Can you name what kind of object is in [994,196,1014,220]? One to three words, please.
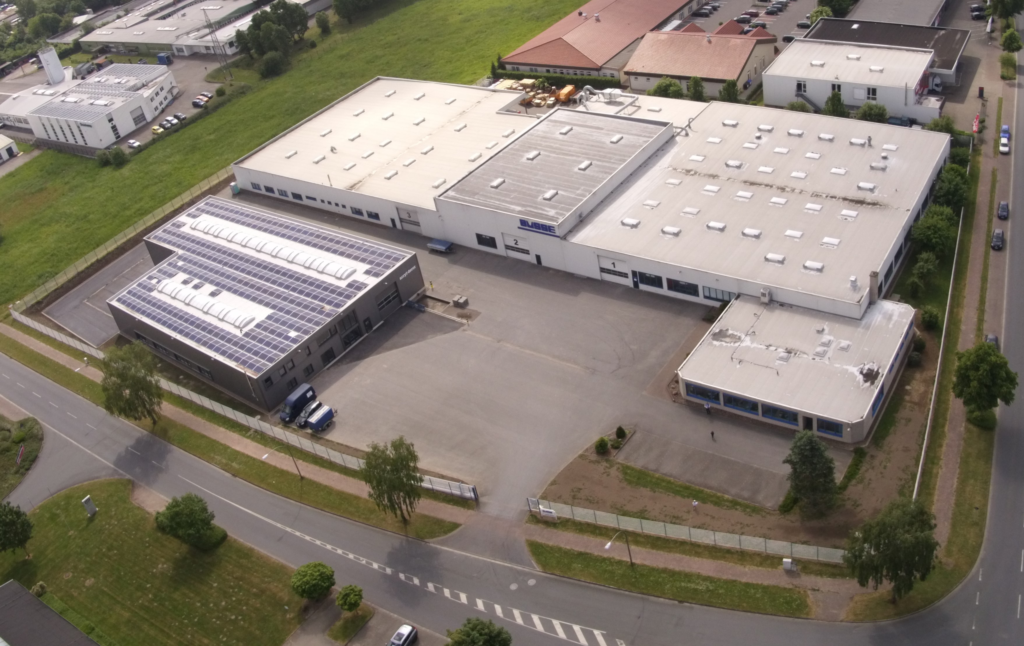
car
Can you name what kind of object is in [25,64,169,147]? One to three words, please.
building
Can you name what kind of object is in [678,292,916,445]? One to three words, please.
building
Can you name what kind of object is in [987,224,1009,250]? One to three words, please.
car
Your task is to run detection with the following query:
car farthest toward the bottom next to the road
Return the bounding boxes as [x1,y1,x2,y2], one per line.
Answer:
[383,615,425,646]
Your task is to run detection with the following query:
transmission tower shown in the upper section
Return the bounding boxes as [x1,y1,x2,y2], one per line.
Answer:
[179,0,242,84]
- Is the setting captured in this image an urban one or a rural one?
urban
